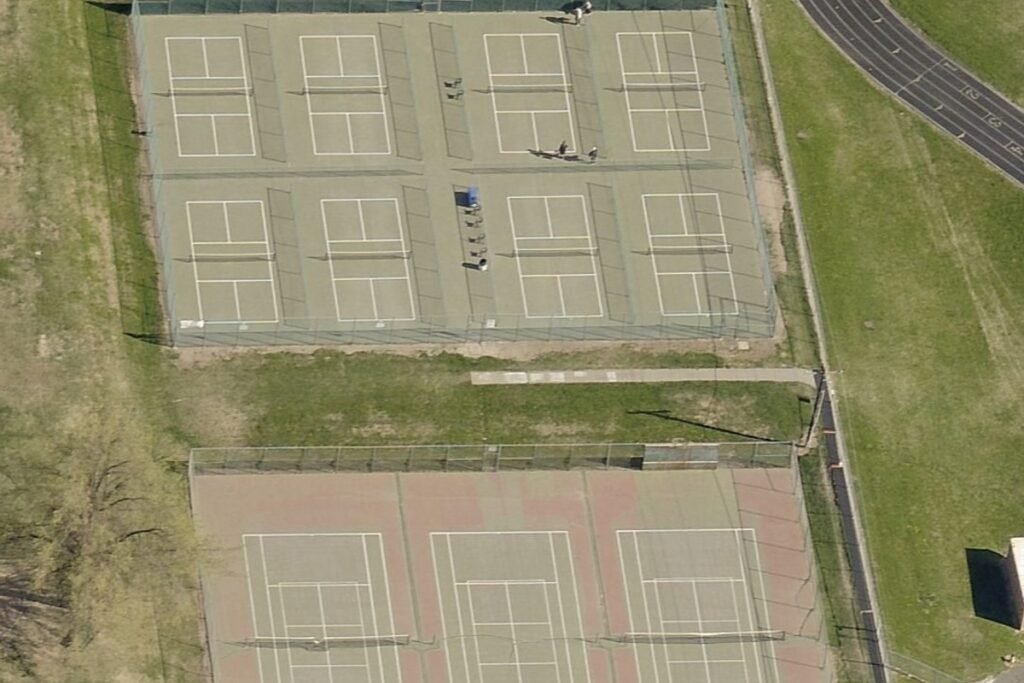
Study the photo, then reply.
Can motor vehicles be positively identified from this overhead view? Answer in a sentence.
No, I find no motor vehicle anywhere in the image.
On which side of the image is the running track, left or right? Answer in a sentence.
You can find the running track on the right side of the picture.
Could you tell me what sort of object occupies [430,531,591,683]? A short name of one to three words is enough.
tennis court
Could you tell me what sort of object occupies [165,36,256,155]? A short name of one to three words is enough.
sports court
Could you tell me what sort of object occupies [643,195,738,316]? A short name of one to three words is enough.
sports court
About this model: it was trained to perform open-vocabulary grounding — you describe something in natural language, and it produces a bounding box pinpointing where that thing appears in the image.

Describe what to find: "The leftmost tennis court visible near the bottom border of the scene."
[242,533,402,683]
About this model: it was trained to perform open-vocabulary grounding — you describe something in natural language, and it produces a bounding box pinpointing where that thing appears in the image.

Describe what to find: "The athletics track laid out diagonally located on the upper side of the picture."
[795,0,1024,188]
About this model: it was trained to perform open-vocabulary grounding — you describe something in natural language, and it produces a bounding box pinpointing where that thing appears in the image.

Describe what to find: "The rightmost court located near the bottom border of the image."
[617,528,779,683]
